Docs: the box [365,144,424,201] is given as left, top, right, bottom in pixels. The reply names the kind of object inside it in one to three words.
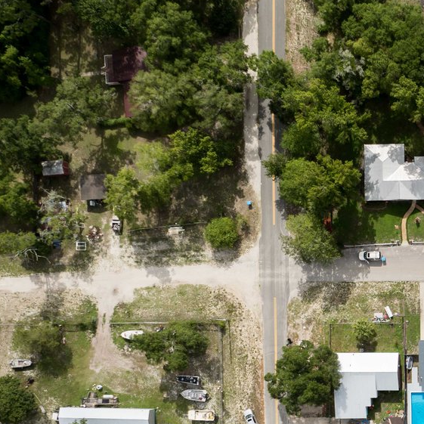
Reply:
house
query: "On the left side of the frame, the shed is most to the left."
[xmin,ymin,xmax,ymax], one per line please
[40,161,74,176]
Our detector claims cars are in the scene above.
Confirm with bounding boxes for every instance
[243,408,256,424]
[358,251,380,260]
